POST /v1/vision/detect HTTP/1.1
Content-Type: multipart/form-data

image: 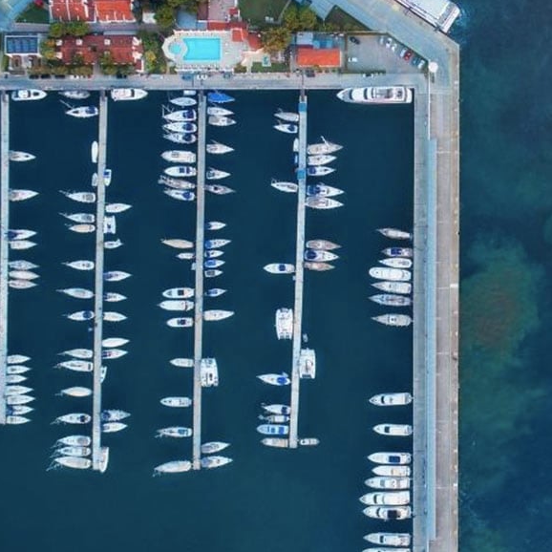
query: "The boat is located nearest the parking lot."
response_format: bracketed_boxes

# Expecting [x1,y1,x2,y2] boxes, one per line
[336,86,413,102]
